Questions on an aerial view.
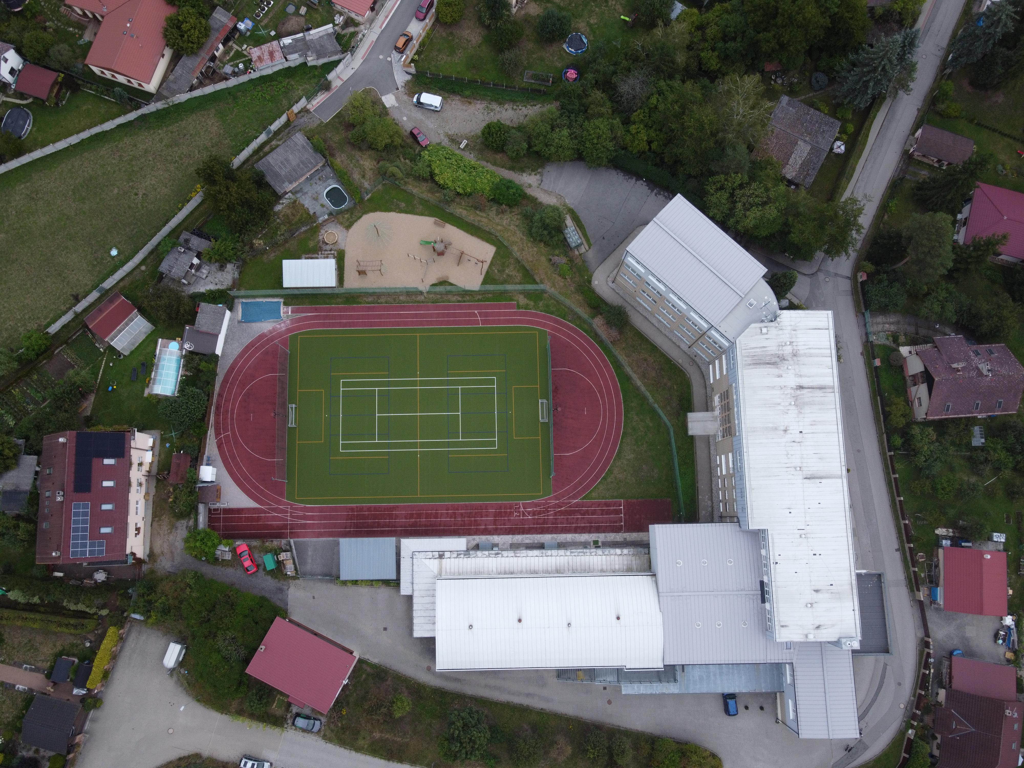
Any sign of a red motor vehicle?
Yes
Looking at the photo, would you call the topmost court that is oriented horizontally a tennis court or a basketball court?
tennis court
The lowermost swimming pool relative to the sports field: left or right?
to the left of it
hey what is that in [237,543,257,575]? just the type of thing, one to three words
car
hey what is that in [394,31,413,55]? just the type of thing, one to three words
car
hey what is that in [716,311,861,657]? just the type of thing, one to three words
building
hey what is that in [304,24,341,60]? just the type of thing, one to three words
shed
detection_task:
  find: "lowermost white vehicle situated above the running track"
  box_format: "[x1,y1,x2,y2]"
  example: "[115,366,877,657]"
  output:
[412,92,444,112]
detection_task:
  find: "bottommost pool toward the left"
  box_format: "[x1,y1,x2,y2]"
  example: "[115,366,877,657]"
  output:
[149,339,183,395]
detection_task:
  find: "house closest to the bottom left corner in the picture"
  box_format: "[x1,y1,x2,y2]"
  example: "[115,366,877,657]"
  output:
[22,693,85,755]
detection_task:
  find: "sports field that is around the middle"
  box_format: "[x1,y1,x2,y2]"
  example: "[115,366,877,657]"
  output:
[285,326,552,505]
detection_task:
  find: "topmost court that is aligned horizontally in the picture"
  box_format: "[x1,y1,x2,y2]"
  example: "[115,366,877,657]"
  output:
[340,377,497,452]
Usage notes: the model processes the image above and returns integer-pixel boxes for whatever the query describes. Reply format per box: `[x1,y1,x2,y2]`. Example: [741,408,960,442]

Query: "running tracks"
[208,302,672,539]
